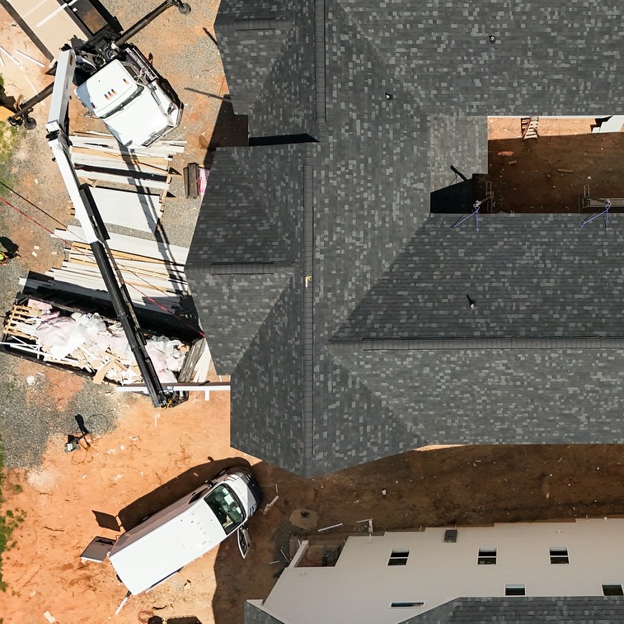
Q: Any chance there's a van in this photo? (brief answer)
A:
Yes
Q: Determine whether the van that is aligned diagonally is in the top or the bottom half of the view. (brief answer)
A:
bottom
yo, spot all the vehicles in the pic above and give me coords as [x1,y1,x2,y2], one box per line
[90,463,273,611]
[7,0,194,404]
